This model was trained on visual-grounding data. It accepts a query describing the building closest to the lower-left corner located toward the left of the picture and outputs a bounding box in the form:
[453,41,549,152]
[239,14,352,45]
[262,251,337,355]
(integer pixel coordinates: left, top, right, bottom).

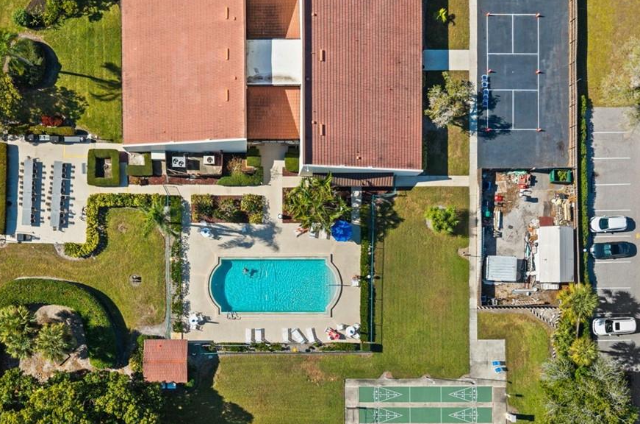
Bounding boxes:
[141,339,186,383]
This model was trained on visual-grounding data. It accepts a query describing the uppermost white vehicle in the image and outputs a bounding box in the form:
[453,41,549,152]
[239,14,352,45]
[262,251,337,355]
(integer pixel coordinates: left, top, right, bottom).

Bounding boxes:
[587,215,630,234]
